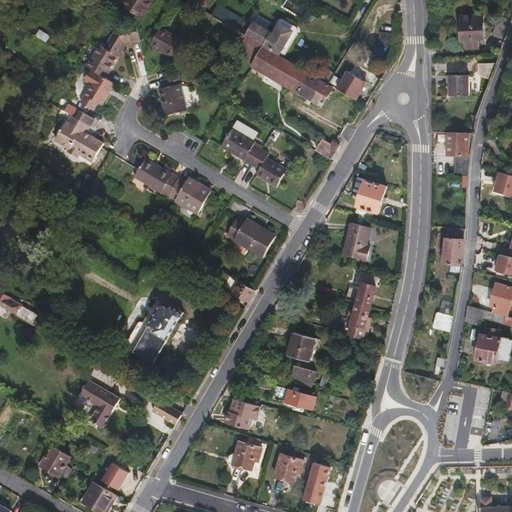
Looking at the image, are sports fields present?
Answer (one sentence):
No, the scene contains no sports field.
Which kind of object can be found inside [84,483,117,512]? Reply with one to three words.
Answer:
house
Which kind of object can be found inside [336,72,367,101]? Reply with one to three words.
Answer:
house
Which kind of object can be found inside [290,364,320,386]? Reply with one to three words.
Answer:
building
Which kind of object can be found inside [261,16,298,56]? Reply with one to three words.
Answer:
building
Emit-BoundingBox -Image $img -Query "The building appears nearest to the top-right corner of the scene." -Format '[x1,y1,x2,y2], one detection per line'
[458,18,487,52]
